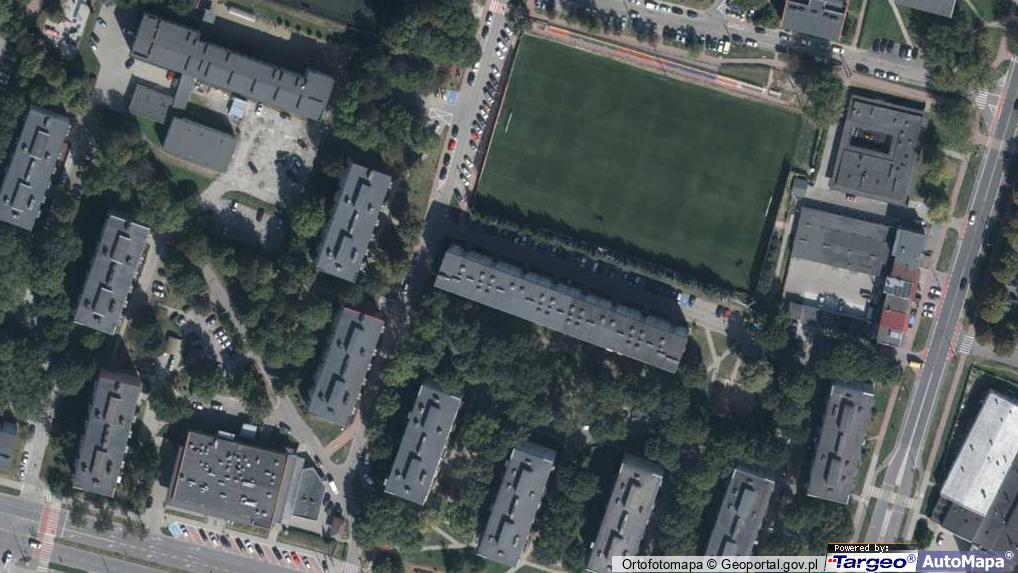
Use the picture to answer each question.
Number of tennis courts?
none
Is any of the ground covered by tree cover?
Yes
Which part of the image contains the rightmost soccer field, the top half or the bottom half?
top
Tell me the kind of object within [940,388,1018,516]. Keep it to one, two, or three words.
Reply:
building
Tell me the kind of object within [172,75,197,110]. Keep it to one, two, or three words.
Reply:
shed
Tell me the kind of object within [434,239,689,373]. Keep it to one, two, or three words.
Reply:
building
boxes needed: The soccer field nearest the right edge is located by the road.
[472,34,803,290]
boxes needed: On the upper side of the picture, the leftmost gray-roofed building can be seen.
[0,105,80,232]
